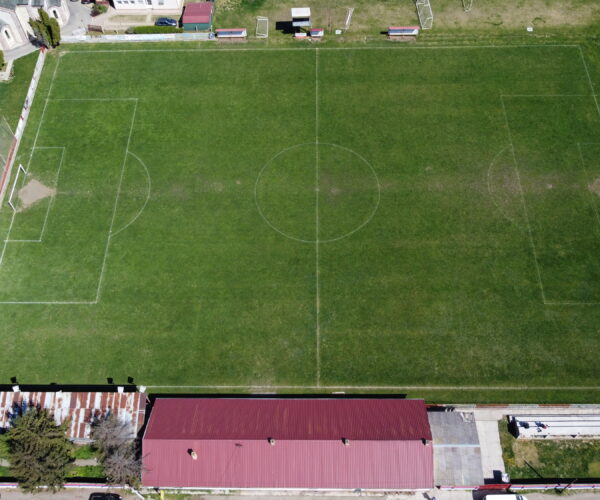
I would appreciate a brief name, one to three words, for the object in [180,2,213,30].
shed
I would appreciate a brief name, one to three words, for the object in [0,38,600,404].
soccer field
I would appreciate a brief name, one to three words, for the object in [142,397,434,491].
building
